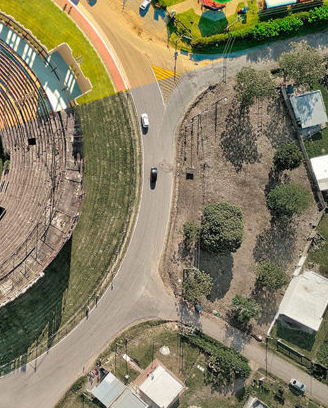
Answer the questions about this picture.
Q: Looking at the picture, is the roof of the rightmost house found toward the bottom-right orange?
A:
No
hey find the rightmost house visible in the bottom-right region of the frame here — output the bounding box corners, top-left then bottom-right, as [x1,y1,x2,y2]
[275,271,328,333]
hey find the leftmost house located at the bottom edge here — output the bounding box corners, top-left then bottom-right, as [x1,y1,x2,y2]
[91,372,128,407]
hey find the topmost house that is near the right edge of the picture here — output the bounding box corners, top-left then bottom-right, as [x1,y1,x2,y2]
[286,90,328,129]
